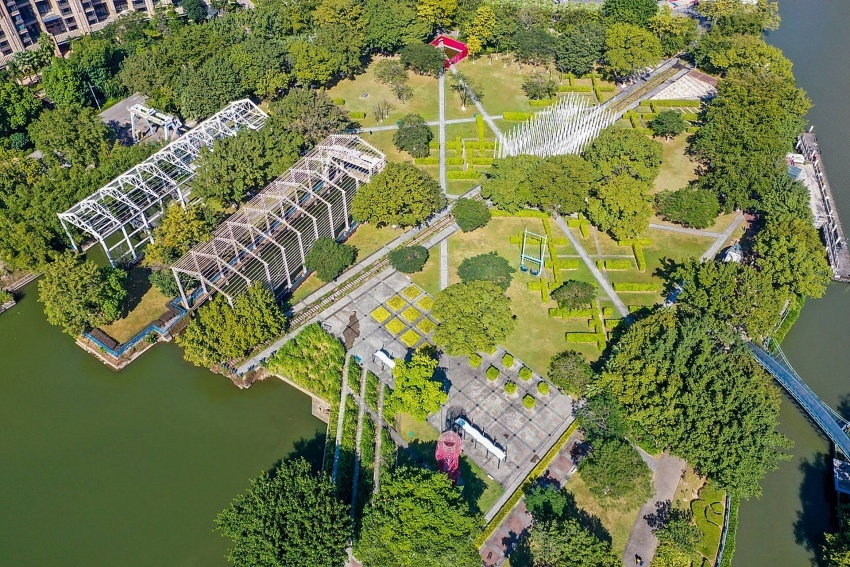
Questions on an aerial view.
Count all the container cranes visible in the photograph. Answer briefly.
1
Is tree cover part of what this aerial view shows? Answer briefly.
Yes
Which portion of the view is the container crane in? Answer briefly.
top left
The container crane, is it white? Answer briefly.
Yes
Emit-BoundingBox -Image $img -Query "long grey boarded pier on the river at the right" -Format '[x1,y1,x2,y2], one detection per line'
[802,131,850,287]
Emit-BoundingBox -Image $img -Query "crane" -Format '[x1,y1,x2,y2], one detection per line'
[126,109,185,159]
